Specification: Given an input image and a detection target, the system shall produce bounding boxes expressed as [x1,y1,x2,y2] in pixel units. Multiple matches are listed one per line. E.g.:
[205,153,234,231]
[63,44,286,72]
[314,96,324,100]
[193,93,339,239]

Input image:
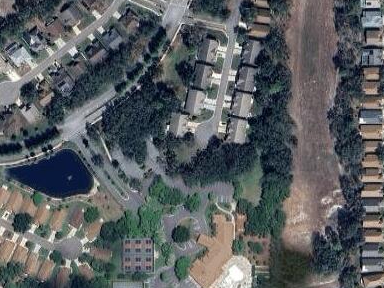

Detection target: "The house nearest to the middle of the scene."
[169,113,189,137]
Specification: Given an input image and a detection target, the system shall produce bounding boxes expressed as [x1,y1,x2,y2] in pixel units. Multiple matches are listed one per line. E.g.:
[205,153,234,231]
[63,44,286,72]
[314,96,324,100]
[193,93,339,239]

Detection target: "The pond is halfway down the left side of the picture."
[6,149,95,197]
